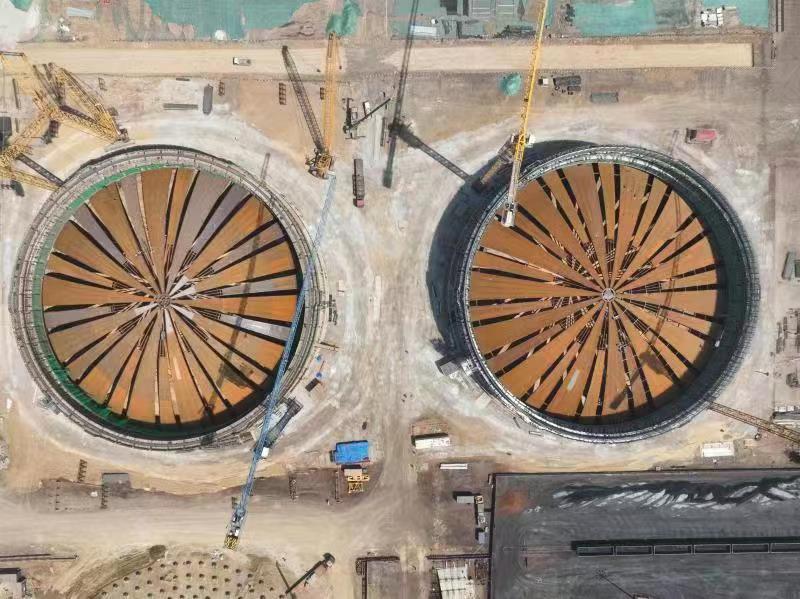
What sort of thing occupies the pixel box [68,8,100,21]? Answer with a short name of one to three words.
building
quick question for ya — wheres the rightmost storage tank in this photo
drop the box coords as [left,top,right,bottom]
[448,141,762,450]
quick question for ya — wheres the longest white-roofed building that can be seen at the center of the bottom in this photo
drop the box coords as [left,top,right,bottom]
[414,433,448,447]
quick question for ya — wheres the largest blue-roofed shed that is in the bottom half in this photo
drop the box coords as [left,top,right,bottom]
[334,439,369,462]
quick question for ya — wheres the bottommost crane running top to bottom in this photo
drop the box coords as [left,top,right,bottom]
[227,176,331,544]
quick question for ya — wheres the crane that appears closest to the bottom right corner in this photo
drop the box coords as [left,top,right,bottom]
[705,401,800,442]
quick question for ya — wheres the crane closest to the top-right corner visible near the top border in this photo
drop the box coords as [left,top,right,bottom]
[477,0,548,218]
